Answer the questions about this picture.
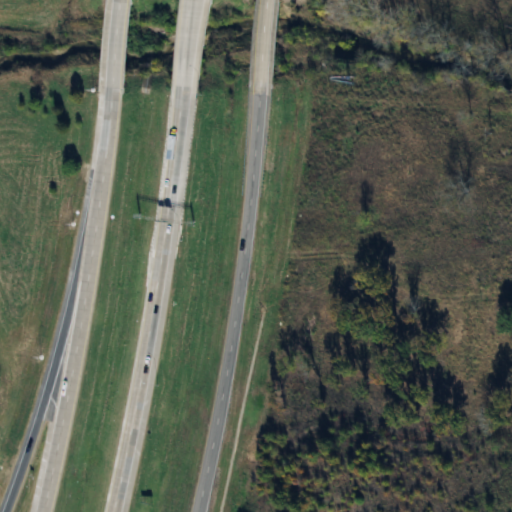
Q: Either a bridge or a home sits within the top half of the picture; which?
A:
bridge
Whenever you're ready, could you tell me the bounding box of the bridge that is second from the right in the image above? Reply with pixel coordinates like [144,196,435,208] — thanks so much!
[170,0,212,94]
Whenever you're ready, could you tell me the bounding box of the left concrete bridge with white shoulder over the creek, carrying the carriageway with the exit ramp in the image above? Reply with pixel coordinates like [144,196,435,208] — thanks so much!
[98,0,132,94]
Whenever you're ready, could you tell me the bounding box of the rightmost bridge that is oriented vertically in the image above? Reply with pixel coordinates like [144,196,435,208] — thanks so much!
[246,0,280,100]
